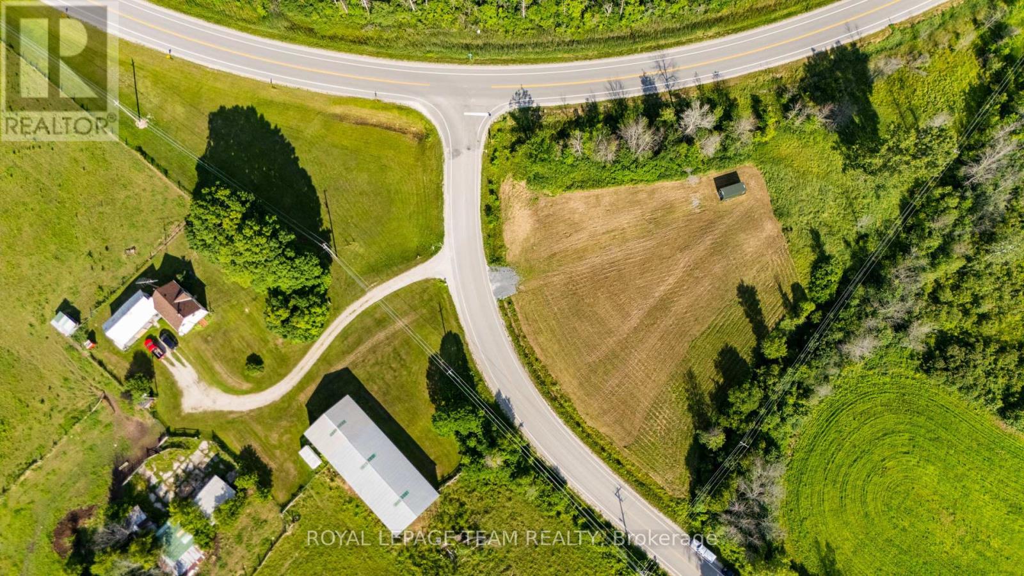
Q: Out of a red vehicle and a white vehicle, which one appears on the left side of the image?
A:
red vehicle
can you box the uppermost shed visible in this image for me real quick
[718,181,747,202]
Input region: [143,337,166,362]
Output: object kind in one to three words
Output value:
truck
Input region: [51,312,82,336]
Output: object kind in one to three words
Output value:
shed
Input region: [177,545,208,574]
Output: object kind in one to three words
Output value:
shed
